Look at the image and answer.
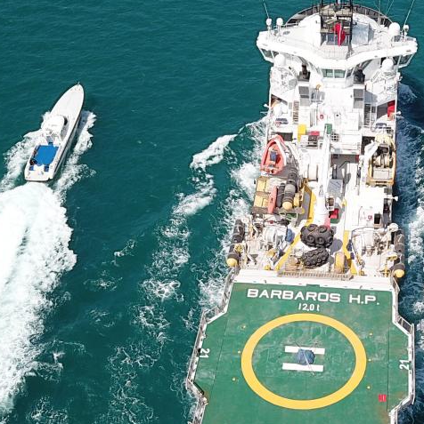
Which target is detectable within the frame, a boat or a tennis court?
boat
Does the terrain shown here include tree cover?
No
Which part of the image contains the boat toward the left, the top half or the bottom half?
top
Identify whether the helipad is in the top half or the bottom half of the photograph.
bottom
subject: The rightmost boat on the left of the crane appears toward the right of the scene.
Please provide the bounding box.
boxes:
[258,128,287,176]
